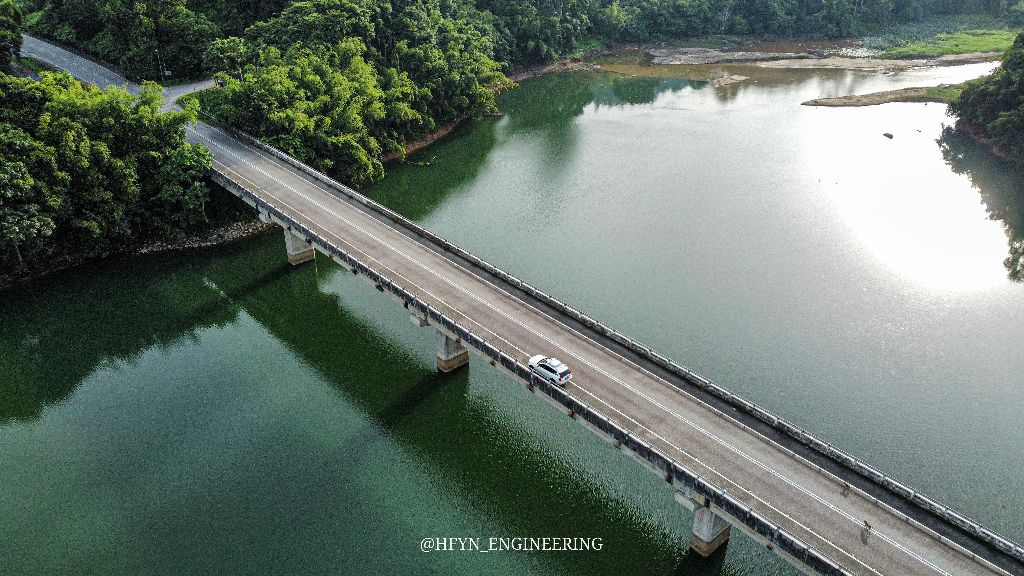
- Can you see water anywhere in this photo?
Yes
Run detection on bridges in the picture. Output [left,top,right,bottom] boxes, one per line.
[174,124,1024,576]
